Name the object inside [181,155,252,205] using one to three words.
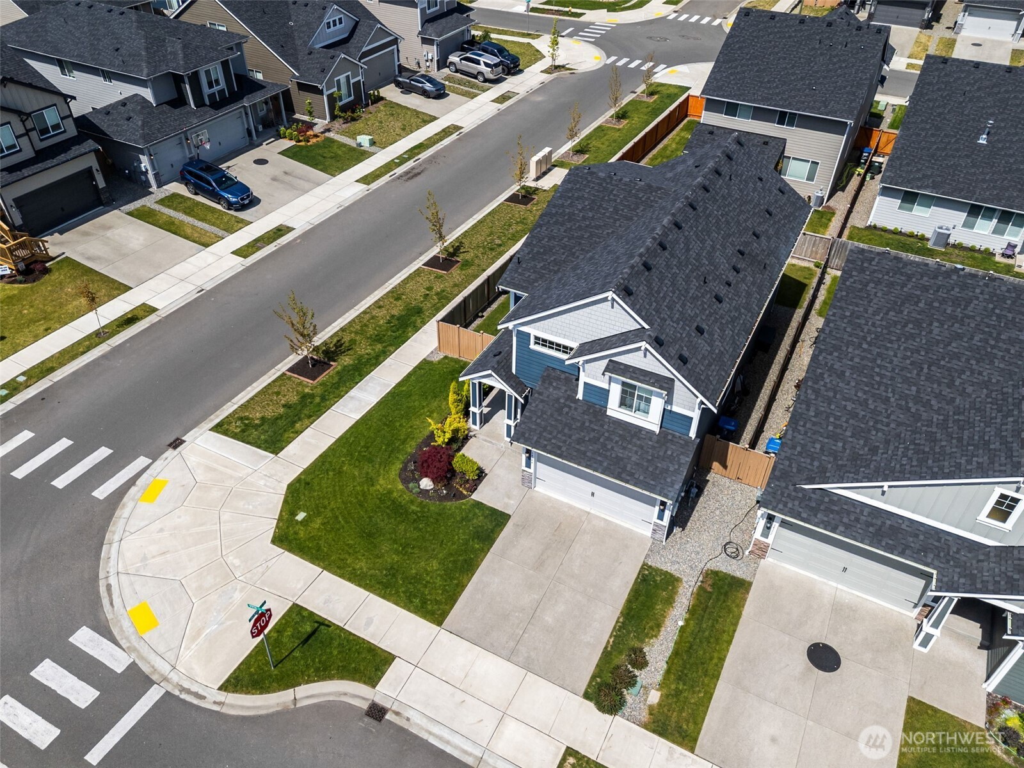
car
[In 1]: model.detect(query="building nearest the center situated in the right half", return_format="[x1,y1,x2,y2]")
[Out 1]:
[458,133,815,549]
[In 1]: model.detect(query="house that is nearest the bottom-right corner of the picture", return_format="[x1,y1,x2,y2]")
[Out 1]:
[742,244,1024,705]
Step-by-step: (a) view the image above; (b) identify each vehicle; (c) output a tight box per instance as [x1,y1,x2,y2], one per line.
[464,44,519,72]
[393,75,445,97]
[181,155,252,205]
[446,50,500,80]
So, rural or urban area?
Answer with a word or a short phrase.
urban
